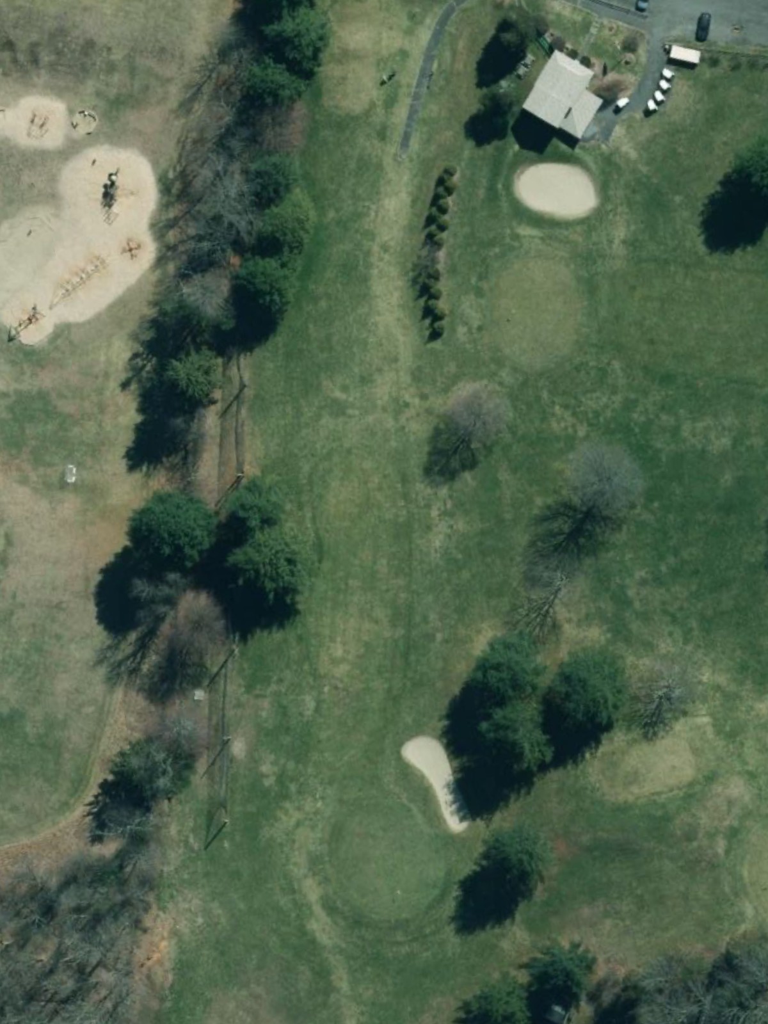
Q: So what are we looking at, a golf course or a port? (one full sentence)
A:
What you see here is a golf course.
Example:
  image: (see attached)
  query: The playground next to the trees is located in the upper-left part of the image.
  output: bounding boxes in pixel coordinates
[0,91,159,348]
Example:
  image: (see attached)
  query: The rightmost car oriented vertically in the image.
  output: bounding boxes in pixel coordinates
[696,12,711,42]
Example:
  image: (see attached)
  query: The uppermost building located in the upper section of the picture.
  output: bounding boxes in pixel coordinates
[523,50,603,138]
